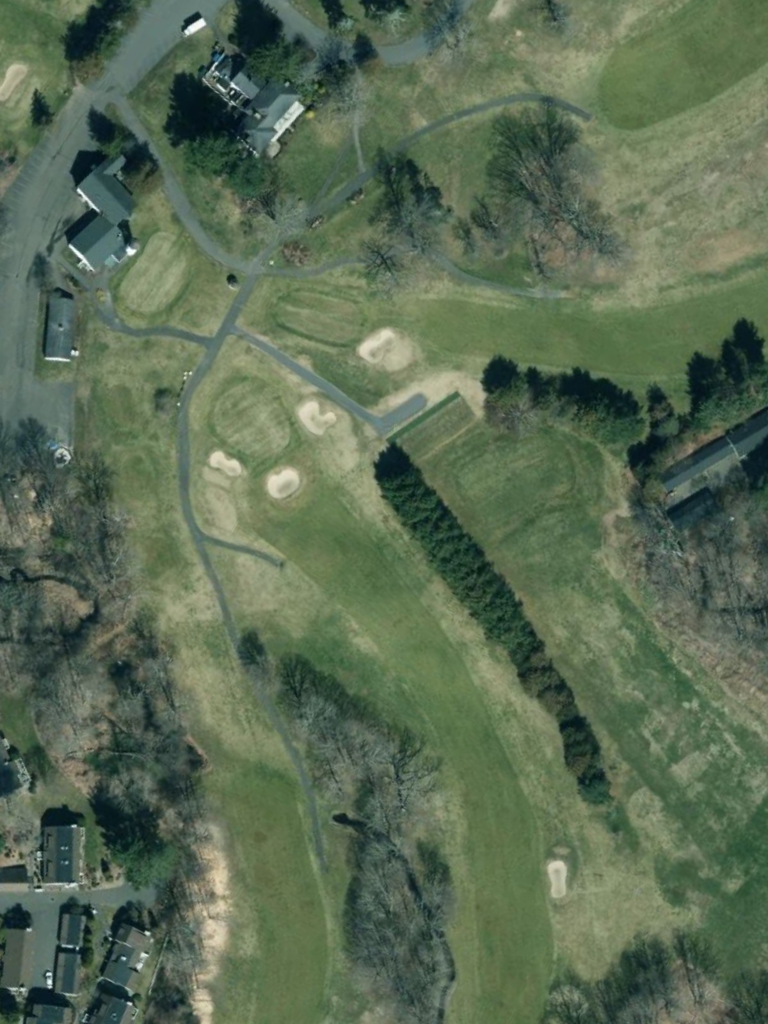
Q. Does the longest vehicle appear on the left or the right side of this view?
left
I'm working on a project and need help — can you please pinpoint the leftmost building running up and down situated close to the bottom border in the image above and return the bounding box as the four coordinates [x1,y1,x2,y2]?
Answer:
[1,928,34,1003]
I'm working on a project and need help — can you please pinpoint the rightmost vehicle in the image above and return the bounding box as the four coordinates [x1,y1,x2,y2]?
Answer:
[182,14,209,34]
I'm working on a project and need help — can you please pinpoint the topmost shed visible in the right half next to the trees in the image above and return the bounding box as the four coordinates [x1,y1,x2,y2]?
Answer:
[662,405,768,494]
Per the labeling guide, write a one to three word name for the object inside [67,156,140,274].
building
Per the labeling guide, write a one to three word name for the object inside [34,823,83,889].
house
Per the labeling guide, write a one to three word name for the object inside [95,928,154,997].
house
